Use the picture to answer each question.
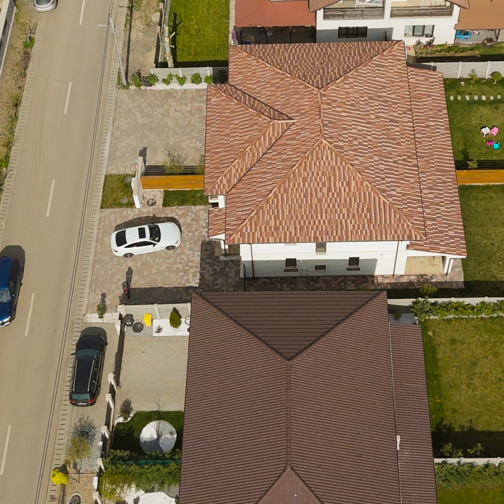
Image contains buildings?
Yes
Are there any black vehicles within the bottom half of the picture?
Yes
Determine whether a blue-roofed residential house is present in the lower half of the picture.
No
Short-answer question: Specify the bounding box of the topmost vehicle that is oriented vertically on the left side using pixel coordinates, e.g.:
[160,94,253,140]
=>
[0,254,30,324]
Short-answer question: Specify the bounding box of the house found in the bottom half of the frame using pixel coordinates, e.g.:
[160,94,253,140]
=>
[174,287,438,504]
